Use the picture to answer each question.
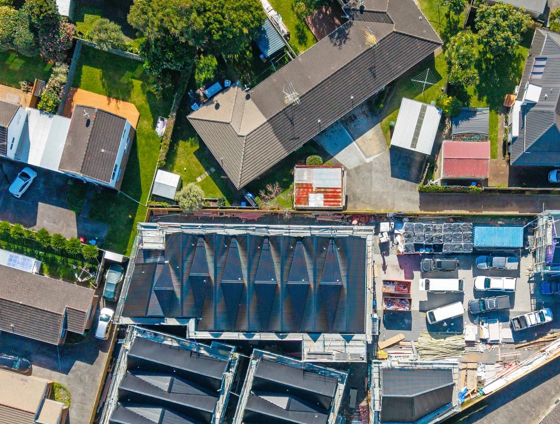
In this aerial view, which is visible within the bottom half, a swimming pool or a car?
car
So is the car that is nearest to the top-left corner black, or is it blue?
blue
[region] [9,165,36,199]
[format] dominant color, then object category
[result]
blue car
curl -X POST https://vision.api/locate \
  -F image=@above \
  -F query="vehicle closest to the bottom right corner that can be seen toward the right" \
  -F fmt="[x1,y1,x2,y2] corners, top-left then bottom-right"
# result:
[509,307,555,332]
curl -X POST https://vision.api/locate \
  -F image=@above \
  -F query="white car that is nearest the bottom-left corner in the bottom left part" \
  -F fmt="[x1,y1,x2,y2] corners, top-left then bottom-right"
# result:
[93,306,116,341]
